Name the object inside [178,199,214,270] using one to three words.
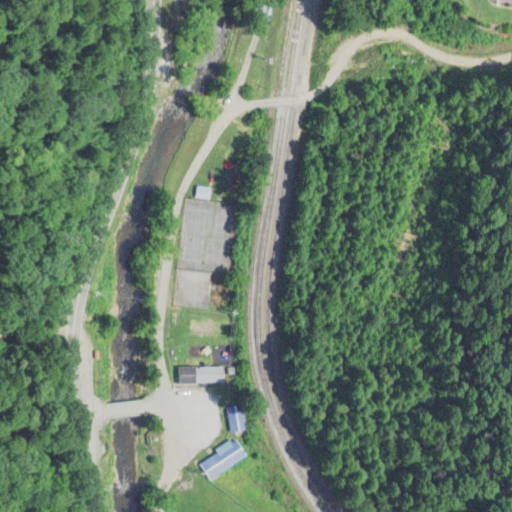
tennis court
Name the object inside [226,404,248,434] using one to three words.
building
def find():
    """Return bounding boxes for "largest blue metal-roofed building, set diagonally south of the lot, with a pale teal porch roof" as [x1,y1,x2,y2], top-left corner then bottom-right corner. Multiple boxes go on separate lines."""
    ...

[199,440,248,480]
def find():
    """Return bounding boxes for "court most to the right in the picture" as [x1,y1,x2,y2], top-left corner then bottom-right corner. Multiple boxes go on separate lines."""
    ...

[204,201,236,272]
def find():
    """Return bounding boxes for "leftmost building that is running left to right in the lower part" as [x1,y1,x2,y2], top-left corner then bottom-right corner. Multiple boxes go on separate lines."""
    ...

[178,366,224,386]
